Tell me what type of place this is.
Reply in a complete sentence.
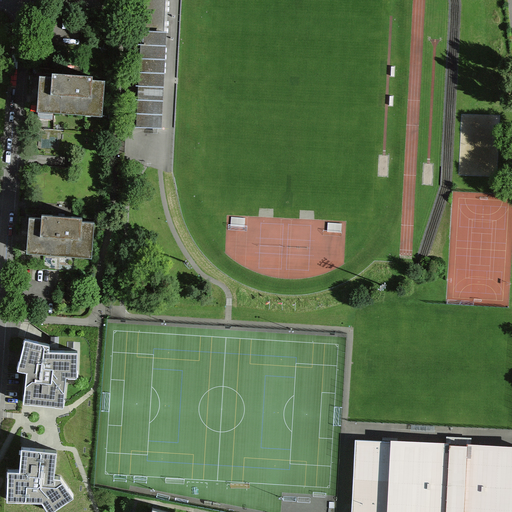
This looks like a sports ground.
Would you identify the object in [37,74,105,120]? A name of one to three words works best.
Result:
house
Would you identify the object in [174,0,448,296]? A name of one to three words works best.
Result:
sports field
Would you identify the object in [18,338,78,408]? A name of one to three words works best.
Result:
building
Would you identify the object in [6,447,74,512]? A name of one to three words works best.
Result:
building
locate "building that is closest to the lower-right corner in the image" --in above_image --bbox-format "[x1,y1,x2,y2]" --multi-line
[350,436,512,512]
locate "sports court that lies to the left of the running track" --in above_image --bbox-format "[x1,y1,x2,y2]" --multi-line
[225,215,346,280]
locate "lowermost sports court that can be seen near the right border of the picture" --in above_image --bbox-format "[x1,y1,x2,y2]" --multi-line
[446,192,512,308]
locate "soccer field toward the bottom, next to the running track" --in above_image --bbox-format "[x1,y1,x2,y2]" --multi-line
[95,324,346,512]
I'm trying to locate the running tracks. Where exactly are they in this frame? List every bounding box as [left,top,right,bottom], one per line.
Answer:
[400,0,425,255]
